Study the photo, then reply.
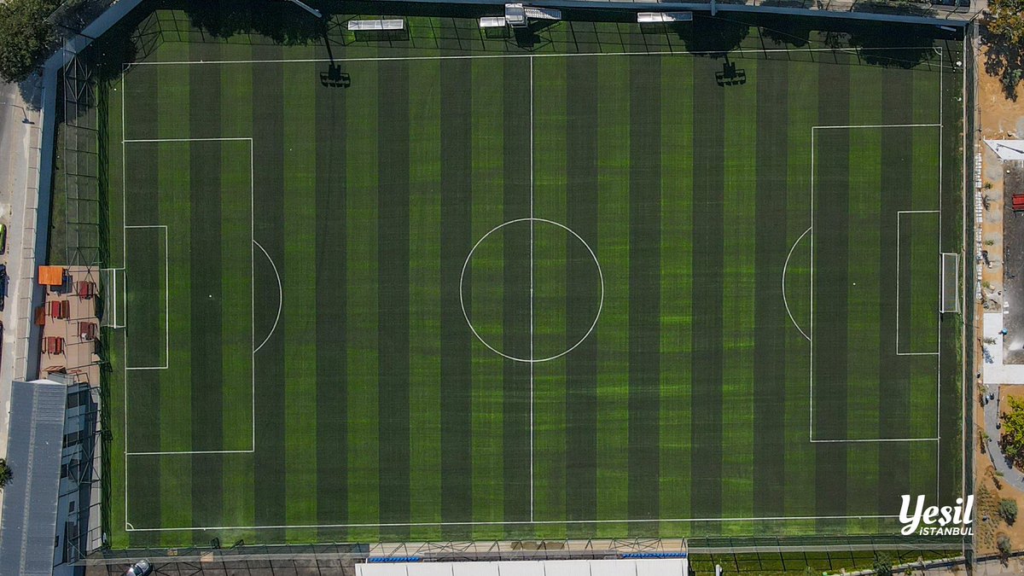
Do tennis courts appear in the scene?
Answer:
No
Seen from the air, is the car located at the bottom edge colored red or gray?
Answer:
gray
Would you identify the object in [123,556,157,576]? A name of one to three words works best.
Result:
car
